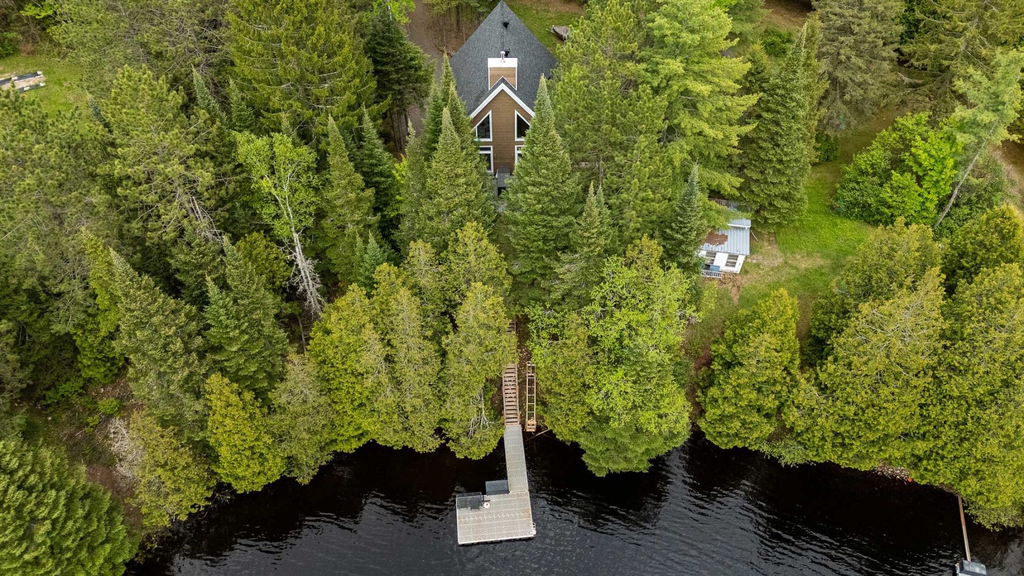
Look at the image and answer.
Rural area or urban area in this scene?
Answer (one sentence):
It looks rural.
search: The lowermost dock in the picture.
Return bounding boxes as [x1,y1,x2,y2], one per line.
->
[455,491,537,545]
